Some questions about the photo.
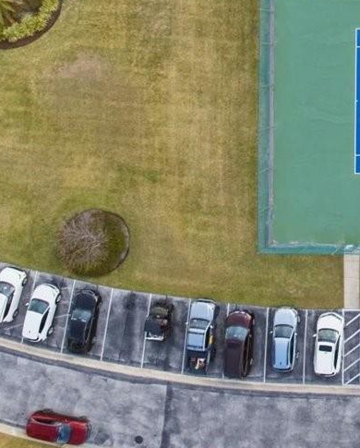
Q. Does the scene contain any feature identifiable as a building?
No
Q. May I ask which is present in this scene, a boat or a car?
car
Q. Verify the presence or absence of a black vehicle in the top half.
No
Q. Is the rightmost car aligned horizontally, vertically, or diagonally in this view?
vertically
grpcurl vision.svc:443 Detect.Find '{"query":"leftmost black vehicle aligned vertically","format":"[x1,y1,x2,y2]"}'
[64,288,103,354]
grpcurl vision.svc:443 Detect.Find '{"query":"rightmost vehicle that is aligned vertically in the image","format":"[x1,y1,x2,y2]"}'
[314,311,345,377]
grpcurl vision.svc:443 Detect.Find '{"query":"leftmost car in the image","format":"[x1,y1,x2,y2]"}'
[0,264,29,325]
